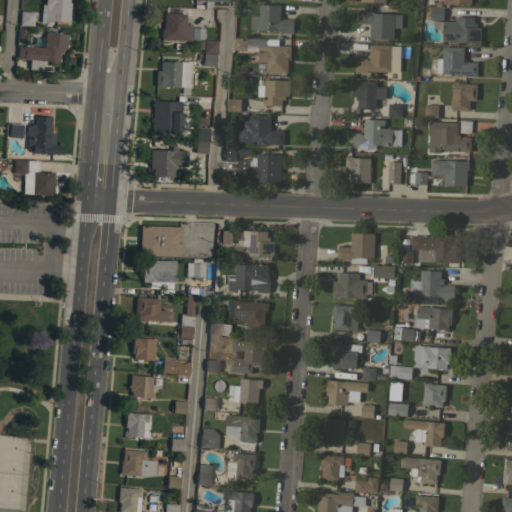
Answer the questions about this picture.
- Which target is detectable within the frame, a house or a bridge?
house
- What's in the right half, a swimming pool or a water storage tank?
swimming pool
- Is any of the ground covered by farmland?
No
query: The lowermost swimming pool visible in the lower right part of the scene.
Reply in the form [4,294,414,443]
[383,496,401,512]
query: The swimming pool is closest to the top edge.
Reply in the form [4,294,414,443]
[425,22,442,42]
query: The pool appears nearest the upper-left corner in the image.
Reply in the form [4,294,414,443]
[10,138,25,156]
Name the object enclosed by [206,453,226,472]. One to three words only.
swimming pool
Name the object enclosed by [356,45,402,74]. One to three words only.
house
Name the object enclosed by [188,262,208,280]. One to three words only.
building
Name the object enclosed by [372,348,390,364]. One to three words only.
swimming pool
